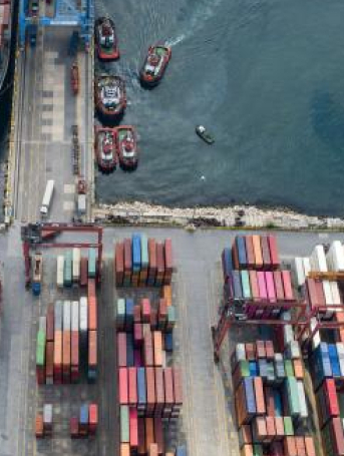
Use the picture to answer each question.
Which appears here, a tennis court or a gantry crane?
gantry crane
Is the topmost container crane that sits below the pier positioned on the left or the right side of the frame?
left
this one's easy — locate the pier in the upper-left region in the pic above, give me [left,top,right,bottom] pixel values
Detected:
[1,0,99,221]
